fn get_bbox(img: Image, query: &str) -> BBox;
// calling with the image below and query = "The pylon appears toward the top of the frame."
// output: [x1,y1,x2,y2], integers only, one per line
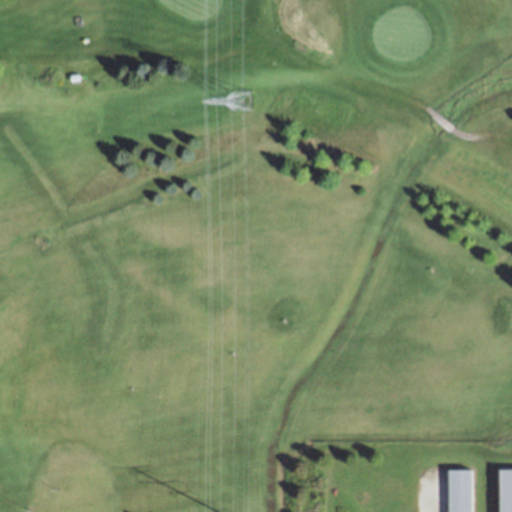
[204,92,252,110]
